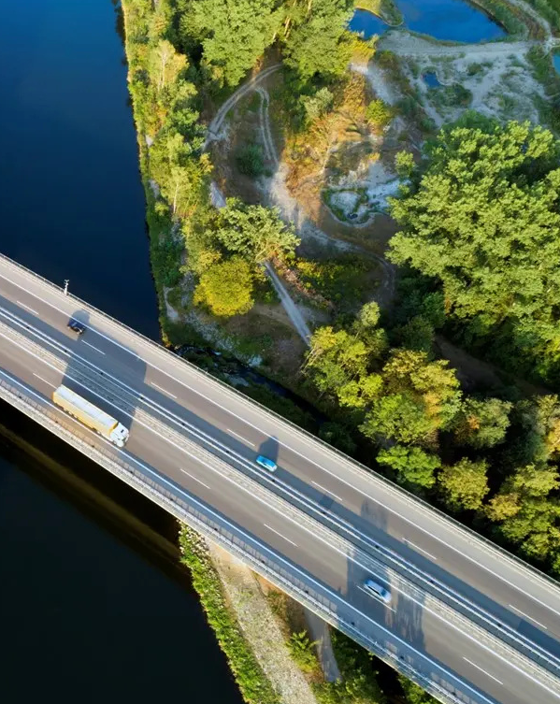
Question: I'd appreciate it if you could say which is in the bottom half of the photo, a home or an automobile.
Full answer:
The one visible in the bottom half of the photo is an automobile.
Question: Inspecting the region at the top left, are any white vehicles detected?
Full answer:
No, looking at the top left, there is no white vehicle.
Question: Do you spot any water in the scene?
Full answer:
Yes, water can be seen from above here.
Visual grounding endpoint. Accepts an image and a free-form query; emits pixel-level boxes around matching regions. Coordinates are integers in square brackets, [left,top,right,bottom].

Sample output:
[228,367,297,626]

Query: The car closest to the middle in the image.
[253,454,276,473]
